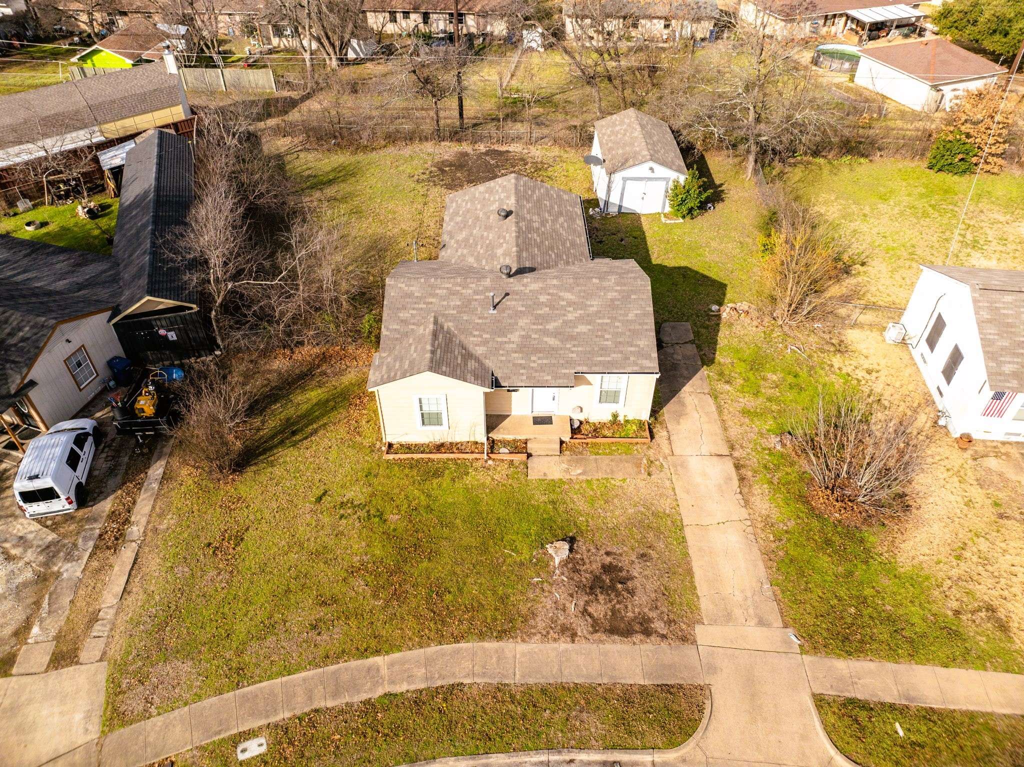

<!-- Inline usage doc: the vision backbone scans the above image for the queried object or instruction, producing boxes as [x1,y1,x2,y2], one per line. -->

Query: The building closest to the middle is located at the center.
[367,173,660,462]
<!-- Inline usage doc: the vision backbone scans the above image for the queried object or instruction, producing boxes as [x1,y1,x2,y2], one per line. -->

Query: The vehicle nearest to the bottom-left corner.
[13,418,105,519]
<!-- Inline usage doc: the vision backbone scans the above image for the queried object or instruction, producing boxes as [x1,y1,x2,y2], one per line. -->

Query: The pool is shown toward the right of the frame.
[806,42,869,82]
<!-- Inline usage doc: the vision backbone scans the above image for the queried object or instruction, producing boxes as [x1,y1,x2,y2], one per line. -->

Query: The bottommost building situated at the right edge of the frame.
[895,262,1024,444]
